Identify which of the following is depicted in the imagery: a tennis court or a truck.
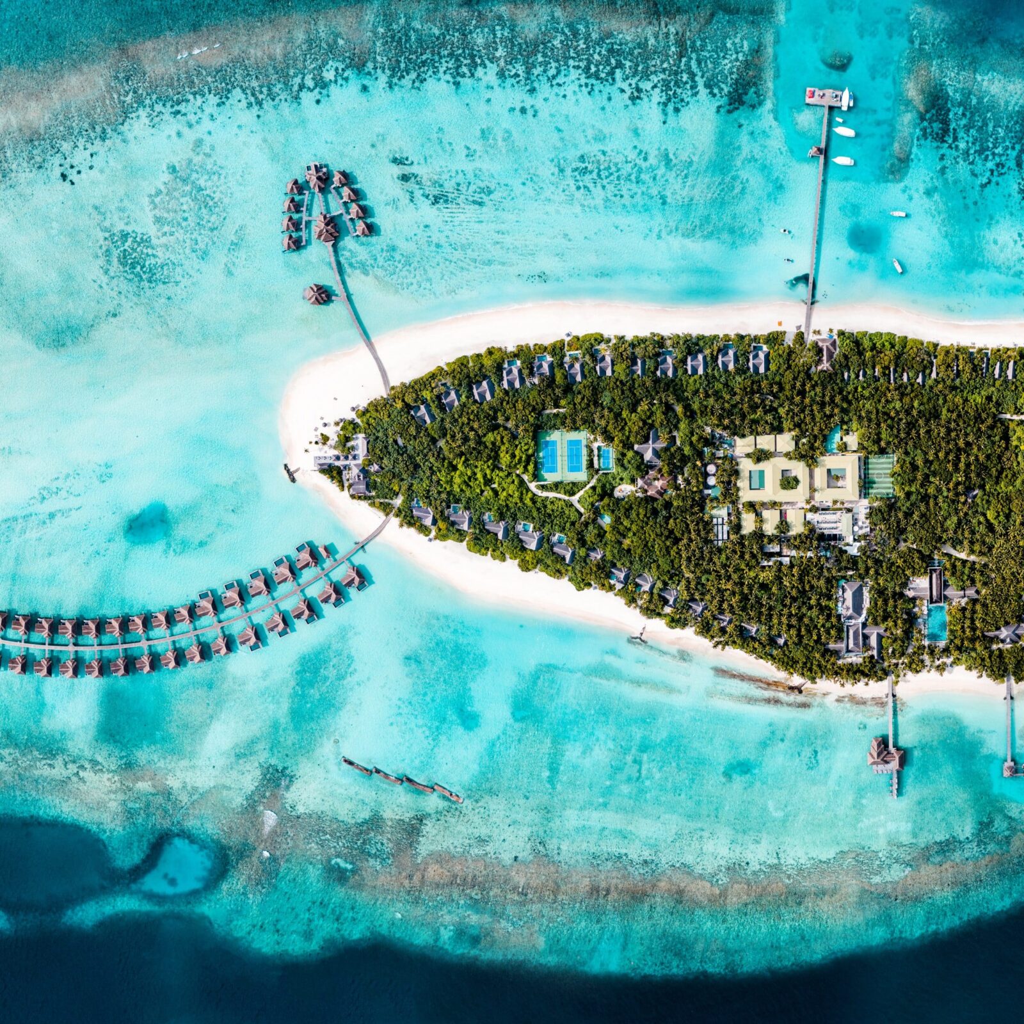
tennis court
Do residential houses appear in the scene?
Yes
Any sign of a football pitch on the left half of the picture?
No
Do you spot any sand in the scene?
Yes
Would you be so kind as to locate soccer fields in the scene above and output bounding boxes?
[863,454,896,498]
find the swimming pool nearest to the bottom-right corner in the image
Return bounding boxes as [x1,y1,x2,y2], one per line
[928,606,948,641]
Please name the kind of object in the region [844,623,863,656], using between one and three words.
building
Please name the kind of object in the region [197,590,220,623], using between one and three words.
house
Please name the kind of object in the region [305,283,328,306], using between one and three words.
building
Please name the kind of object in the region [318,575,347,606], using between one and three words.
house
